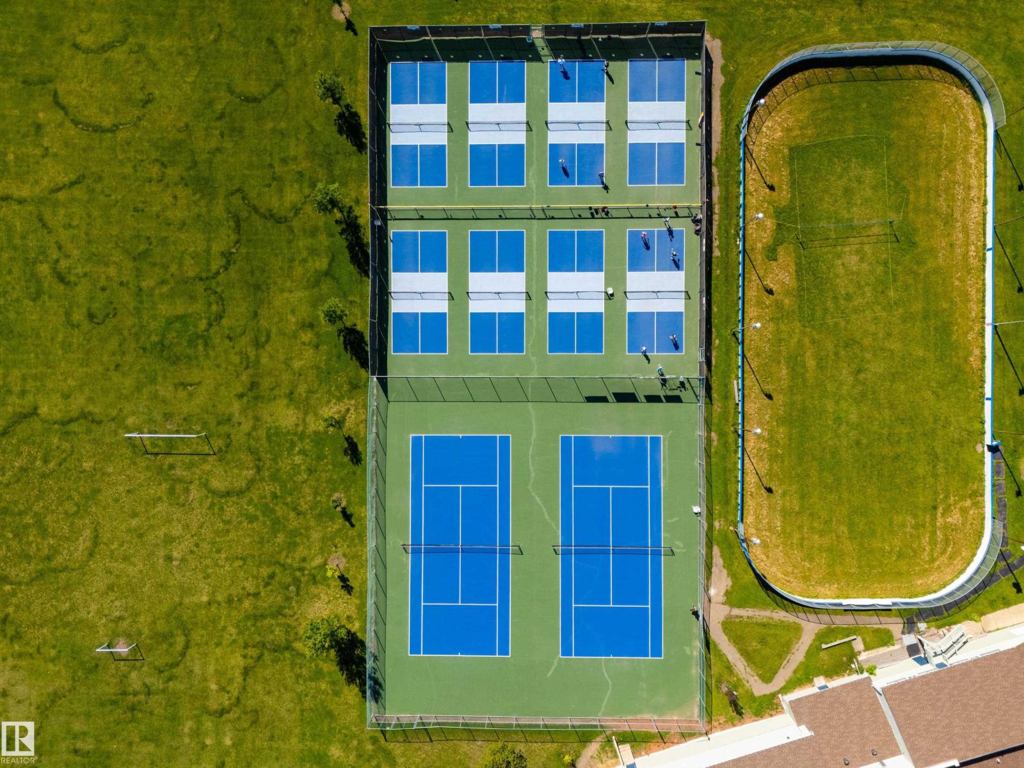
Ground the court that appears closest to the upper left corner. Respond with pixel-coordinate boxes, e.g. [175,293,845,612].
[391,62,447,187]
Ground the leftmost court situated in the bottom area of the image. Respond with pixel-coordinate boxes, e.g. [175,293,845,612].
[409,435,511,656]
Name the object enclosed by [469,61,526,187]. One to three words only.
sports court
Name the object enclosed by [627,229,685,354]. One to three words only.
sports court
